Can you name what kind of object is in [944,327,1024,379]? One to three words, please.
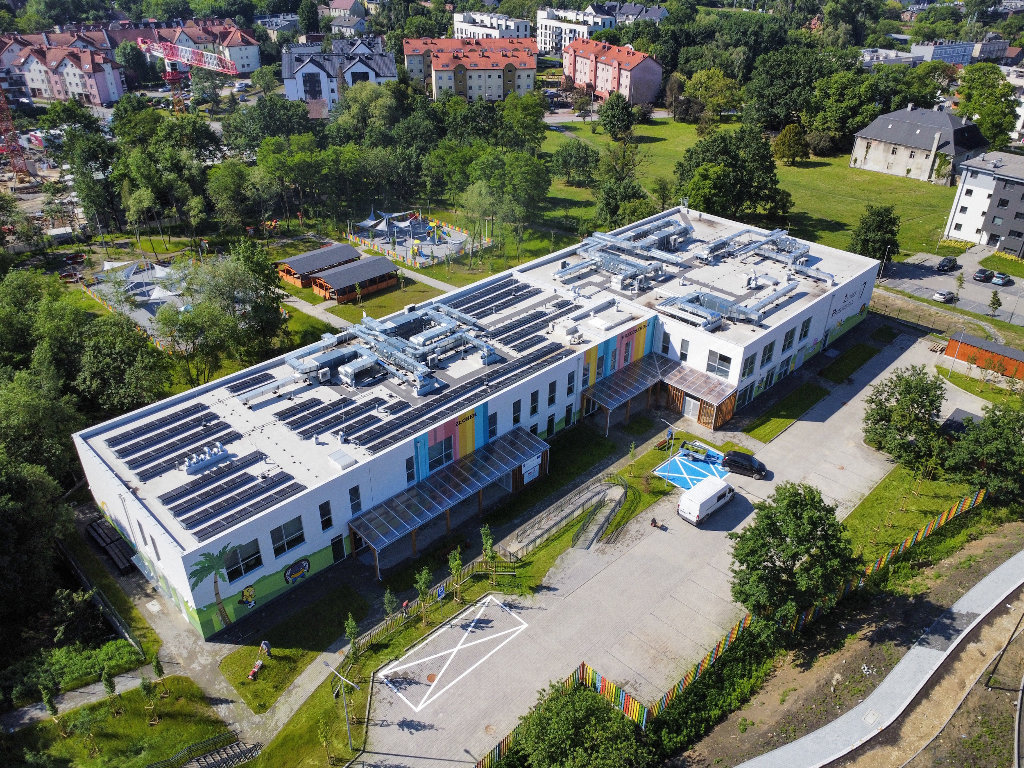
shed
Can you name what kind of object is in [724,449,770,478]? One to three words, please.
car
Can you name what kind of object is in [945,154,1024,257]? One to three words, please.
building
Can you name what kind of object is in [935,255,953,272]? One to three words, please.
car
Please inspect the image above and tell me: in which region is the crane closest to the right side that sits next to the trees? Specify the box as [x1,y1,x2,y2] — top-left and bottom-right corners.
[137,39,241,116]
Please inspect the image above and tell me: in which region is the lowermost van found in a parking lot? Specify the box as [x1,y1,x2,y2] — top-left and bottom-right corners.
[678,477,733,524]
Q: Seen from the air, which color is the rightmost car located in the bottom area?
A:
black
